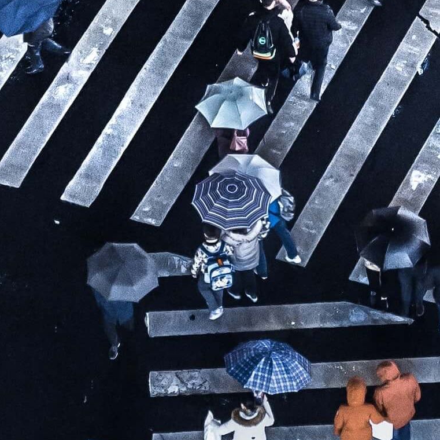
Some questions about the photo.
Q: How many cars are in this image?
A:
0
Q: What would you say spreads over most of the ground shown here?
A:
paved ground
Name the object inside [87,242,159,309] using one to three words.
umbrella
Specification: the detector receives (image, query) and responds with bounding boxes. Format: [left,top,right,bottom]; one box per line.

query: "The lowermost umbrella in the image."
[223,337,312,409]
